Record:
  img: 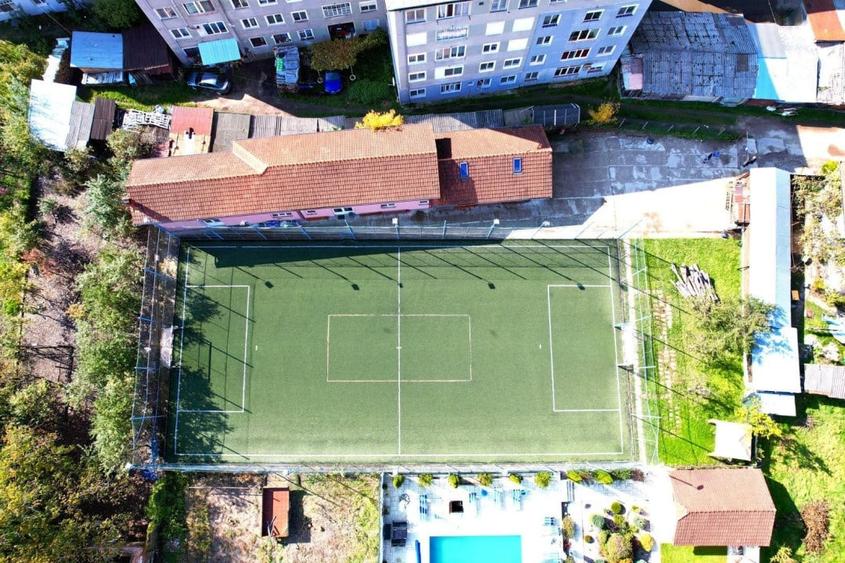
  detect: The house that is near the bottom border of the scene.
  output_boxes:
[662,467,777,546]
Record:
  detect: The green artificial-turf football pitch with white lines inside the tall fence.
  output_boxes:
[164,239,635,464]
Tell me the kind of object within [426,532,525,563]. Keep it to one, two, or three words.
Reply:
swimming pool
